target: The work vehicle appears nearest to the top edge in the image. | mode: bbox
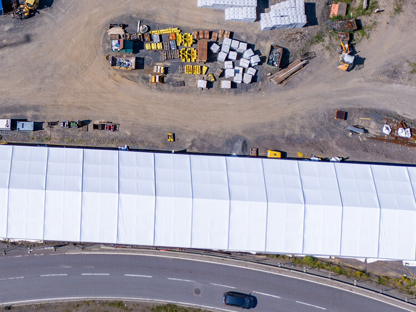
[10,0,44,24]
